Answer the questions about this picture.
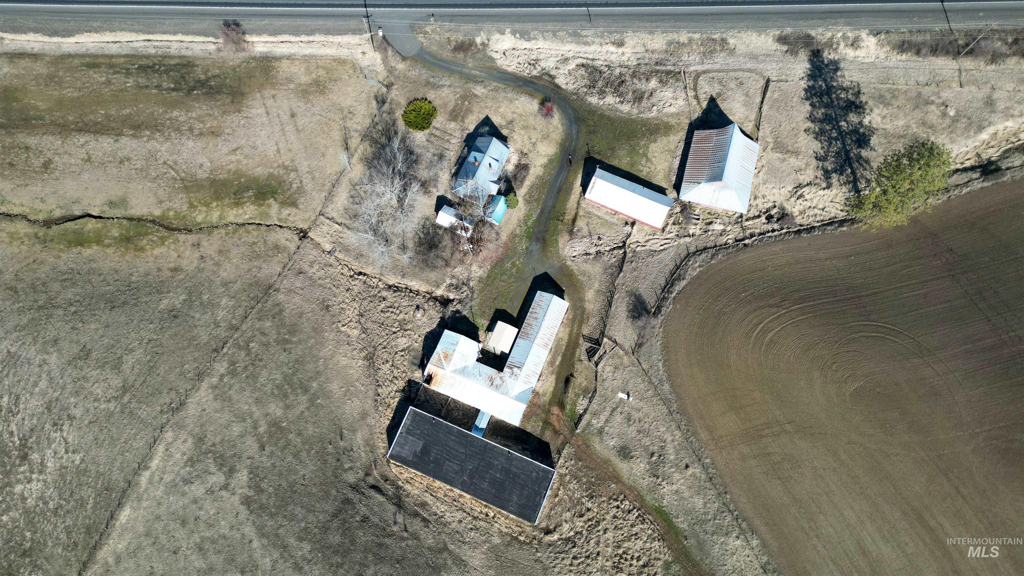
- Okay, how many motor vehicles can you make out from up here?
0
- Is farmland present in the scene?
Yes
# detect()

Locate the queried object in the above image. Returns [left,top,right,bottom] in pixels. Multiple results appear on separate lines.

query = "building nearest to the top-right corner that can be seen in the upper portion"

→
[679,122,759,214]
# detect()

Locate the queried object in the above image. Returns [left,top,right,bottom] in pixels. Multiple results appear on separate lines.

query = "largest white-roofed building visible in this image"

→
[422,291,569,426]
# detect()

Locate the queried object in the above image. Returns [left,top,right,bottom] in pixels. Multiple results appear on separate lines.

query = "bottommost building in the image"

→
[387,406,556,525]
